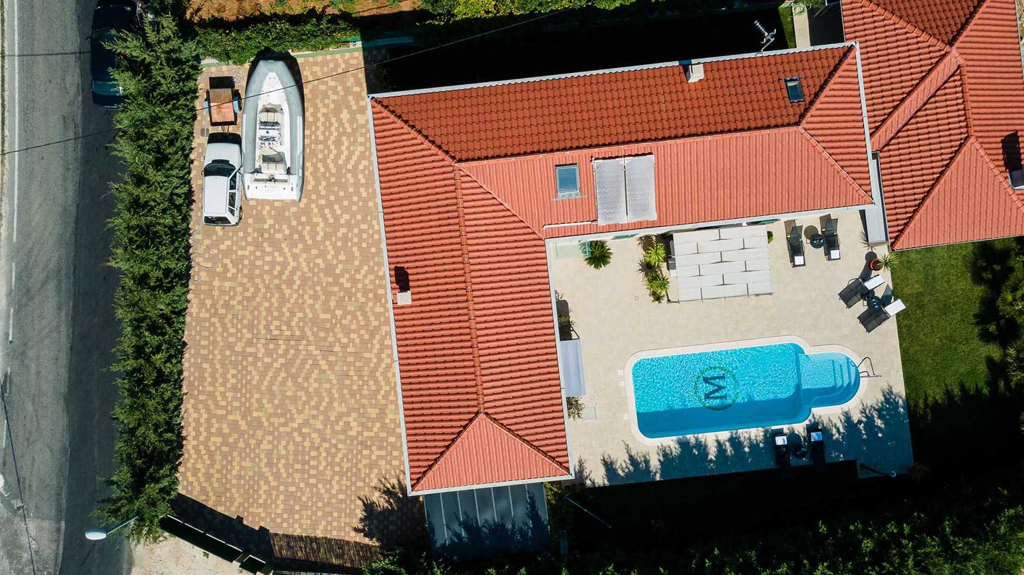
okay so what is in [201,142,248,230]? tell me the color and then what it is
white car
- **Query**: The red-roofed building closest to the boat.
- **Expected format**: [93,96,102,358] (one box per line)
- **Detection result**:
[362,38,880,502]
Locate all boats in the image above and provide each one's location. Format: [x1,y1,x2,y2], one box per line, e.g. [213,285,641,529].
[241,60,305,201]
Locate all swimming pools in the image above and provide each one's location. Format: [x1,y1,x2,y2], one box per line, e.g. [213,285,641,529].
[625,335,869,447]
